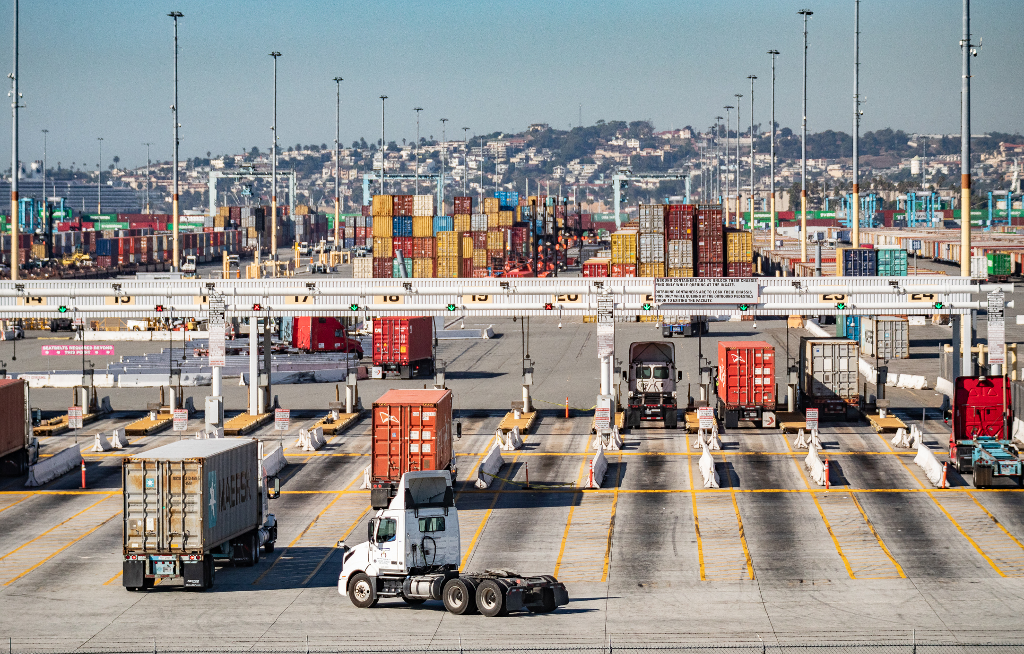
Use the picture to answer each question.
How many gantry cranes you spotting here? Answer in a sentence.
There are 3 gantry cranes in the image.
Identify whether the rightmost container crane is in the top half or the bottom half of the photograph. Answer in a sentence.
It is in the top half that the rightmost container crane appears.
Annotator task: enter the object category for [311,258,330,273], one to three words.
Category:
vehicle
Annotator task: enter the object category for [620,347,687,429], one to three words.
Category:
truck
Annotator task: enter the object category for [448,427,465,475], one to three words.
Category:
vehicle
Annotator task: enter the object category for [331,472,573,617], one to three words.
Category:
truck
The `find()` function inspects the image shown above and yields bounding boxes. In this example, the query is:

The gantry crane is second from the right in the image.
[364,167,445,216]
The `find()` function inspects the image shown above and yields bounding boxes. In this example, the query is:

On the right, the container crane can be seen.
[613,167,690,234]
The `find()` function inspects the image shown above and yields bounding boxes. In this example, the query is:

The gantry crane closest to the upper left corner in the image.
[209,163,297,225]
